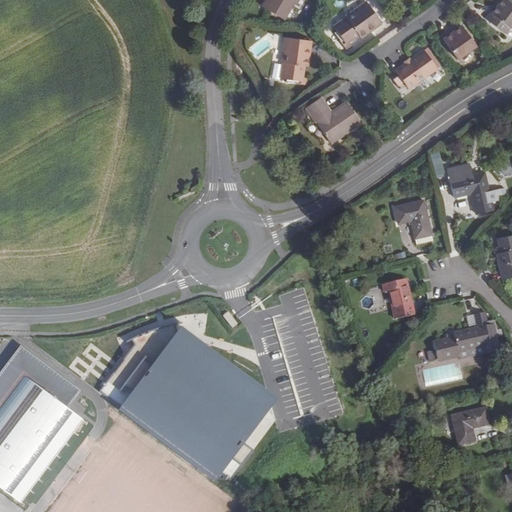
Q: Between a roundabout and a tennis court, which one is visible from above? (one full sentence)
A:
Visible in the photo is a roundabout.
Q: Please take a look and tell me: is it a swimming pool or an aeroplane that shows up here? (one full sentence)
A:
This aerial view contains a swimming pool.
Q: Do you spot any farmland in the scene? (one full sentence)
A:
Yes, farmland can be seen from above here.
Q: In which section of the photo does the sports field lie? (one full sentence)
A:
You can find the sports field in the bottom left area of the picture.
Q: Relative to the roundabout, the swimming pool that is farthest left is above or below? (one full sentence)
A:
You can see the swimming pool that is farthest left above the roundabout in the frame.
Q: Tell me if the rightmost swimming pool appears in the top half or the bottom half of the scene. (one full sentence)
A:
You can find the rightmost swimming pool in the bottom half.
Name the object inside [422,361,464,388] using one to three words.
swimming pool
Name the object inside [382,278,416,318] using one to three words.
house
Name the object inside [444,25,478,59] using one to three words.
house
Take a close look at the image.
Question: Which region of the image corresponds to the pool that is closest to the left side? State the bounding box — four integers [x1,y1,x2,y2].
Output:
[249,33,276,60]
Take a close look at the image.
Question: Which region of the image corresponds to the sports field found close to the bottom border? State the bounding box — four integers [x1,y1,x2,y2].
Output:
[44,404,233,512]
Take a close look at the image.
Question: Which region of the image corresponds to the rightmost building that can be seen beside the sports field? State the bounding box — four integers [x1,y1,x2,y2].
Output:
[101,311,276,483]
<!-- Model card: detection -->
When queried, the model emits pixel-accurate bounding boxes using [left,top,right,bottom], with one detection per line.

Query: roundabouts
[164,198,274,300]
